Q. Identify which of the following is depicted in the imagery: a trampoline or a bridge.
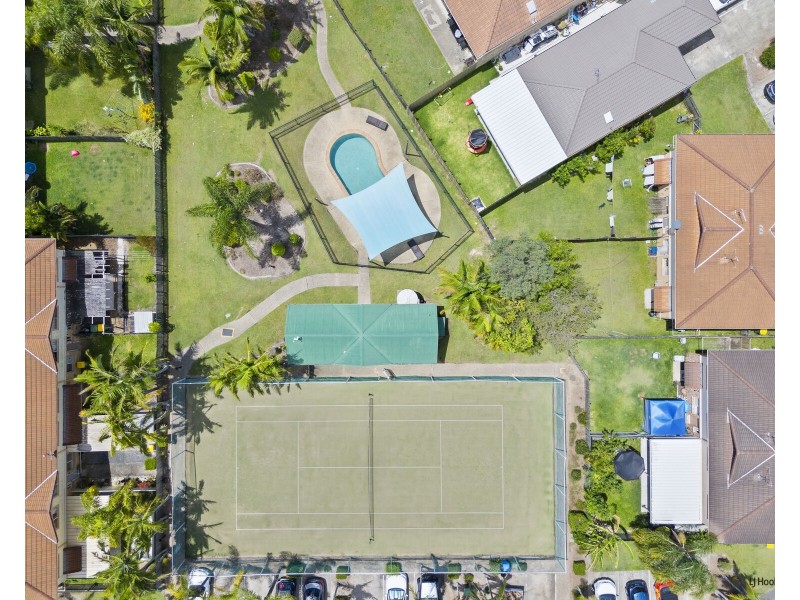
trampoline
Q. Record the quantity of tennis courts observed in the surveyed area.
1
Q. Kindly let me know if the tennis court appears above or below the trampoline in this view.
below it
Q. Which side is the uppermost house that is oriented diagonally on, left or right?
right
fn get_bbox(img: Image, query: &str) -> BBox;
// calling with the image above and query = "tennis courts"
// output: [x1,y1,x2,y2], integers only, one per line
[187,383,552,555]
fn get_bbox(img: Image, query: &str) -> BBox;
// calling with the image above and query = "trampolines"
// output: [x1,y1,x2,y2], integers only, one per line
[463,130,488,157]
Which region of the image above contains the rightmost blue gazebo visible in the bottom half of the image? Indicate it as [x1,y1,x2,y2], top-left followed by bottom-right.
[638,395,686,436]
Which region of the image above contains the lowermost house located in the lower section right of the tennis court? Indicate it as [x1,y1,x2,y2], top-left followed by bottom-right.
[637,348,800,545]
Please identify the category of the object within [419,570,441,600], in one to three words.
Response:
car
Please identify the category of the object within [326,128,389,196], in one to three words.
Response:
swimming pool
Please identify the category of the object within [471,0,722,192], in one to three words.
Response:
house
